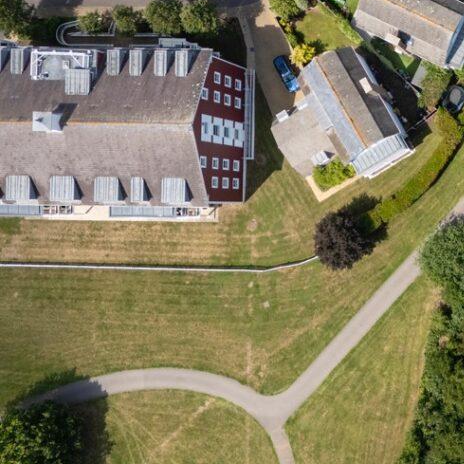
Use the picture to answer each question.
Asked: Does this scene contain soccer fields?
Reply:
No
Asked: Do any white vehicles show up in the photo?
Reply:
No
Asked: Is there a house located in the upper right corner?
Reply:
Yes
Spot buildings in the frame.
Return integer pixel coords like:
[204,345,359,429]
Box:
[270,45,417,182]
[356,0,464,72]
[0,45,254,219]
